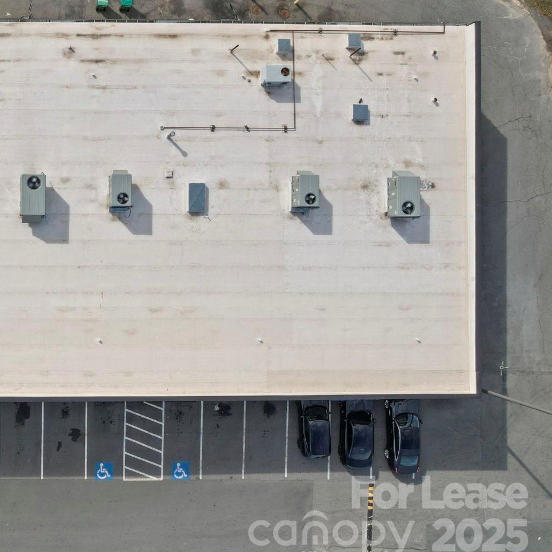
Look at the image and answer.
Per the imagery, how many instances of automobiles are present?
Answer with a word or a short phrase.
3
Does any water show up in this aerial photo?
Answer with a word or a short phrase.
No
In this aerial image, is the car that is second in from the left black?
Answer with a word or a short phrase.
Yes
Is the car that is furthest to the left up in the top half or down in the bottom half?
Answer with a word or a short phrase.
bottom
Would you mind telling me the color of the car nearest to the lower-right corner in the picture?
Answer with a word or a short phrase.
black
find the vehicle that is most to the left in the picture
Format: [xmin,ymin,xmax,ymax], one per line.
[298,399,338,459]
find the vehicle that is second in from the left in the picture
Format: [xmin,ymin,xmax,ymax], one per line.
[338,399,382,471]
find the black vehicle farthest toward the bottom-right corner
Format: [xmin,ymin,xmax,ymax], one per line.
[384,399,427,475]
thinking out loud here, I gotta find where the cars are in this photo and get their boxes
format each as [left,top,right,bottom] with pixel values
[298,399,338,459]
[384,399,427,475]
[338,399,382,471]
